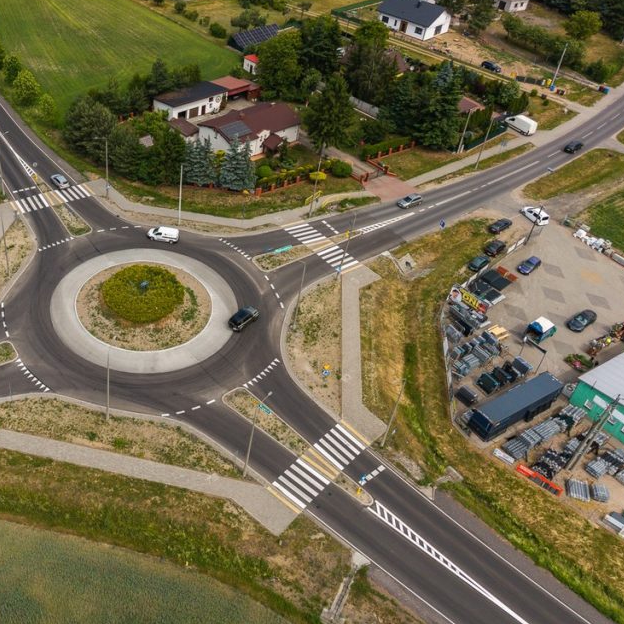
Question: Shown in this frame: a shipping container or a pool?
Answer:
shipping container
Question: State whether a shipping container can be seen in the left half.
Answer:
No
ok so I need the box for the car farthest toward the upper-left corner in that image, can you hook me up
[49,170,69,188]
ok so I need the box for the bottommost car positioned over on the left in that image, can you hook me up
[227,303,263,327]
